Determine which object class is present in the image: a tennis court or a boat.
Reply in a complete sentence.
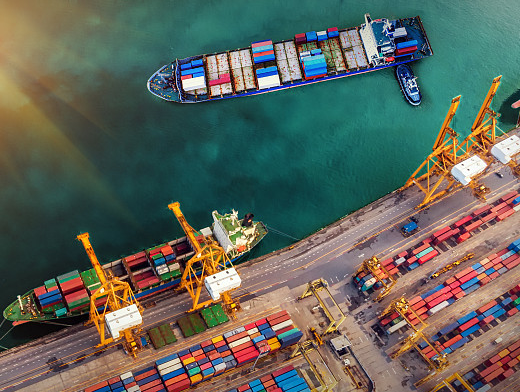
Of the two, only a boat appears.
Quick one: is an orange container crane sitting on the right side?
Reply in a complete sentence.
Yes, an orange container crane shows up on the right side.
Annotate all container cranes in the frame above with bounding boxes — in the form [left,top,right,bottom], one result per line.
[296,279,349,339]
[426,71,520,196]
[287,340,344,392]
[168,194,240,321]
[391,335,455,388]
[389,91,493,215]
[374,297,433,349]
[422,372,474,392]
[81,225,150,360]
[347,255,401,307]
